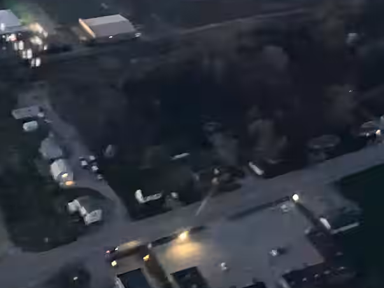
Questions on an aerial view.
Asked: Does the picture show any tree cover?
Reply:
Yes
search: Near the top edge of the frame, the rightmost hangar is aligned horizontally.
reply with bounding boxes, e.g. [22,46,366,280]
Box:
[73,13,138,43]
